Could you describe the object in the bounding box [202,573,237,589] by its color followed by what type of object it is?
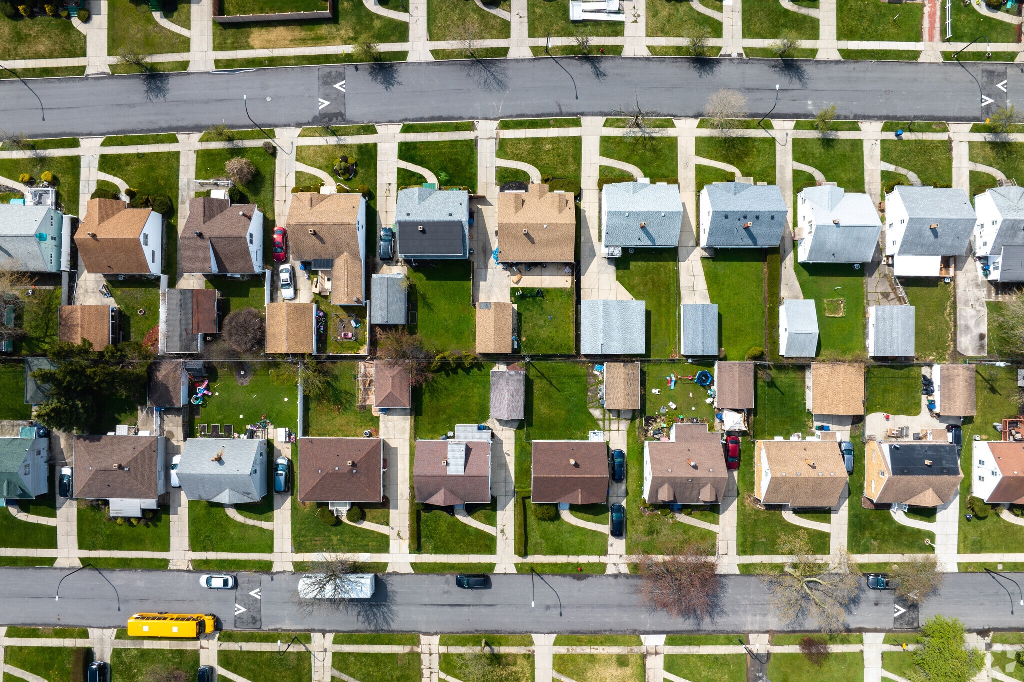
white car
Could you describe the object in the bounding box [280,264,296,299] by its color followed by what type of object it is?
white car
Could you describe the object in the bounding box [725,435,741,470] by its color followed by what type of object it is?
red car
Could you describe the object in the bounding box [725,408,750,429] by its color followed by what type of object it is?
white tent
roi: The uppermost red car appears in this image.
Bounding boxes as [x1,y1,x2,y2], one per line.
[272,227,288,262]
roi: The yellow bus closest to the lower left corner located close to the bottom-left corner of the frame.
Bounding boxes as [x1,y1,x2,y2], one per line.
[128,613,217,637]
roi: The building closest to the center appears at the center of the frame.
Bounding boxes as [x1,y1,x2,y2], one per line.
[476,302,512,353]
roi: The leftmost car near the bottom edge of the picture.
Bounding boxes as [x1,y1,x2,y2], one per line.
[88,658,108,682]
